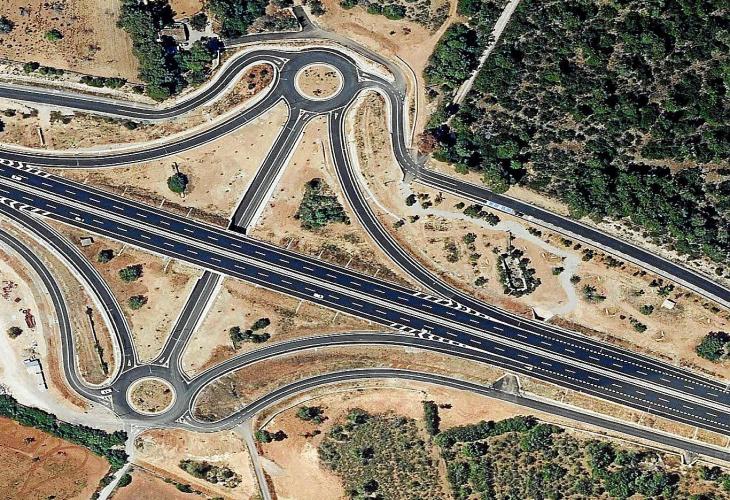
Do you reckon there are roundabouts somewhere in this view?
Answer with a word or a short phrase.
Yes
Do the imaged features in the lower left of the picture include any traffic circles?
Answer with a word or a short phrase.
Yes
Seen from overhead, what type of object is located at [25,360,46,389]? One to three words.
shed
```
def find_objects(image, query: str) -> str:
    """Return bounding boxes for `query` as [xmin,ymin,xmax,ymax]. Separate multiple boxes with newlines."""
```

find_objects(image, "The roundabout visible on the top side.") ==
[258,49,390,139]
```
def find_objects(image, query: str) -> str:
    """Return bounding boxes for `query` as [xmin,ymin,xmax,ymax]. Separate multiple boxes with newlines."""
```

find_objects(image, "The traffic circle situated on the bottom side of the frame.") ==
[85,340,223,435]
